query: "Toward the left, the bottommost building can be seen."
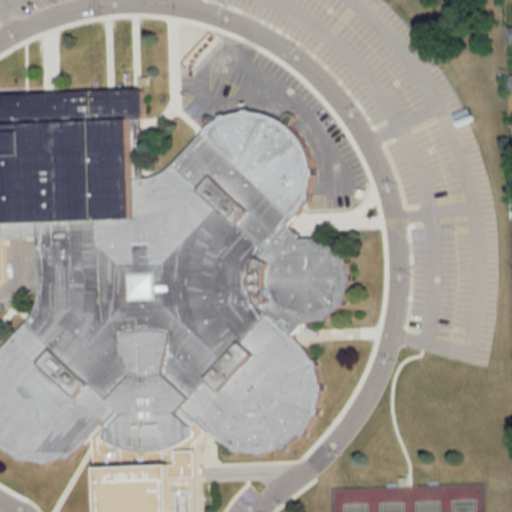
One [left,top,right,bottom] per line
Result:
[0,88,351,512]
